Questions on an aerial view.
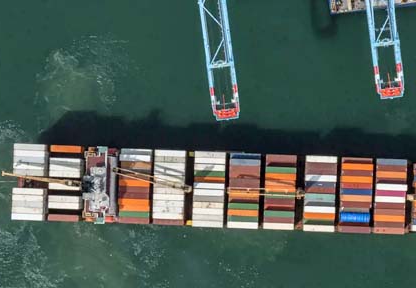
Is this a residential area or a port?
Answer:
port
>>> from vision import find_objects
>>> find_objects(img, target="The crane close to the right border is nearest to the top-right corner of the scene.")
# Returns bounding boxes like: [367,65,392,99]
[364,0,404,100]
